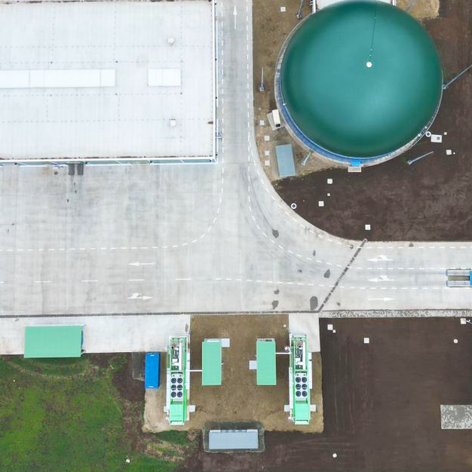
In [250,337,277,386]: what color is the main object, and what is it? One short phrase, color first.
green shipping container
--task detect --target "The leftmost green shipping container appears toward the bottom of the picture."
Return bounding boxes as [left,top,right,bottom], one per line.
[201,337,231,386]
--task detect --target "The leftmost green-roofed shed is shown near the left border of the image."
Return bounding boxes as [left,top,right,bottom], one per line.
[24,324,89,358]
